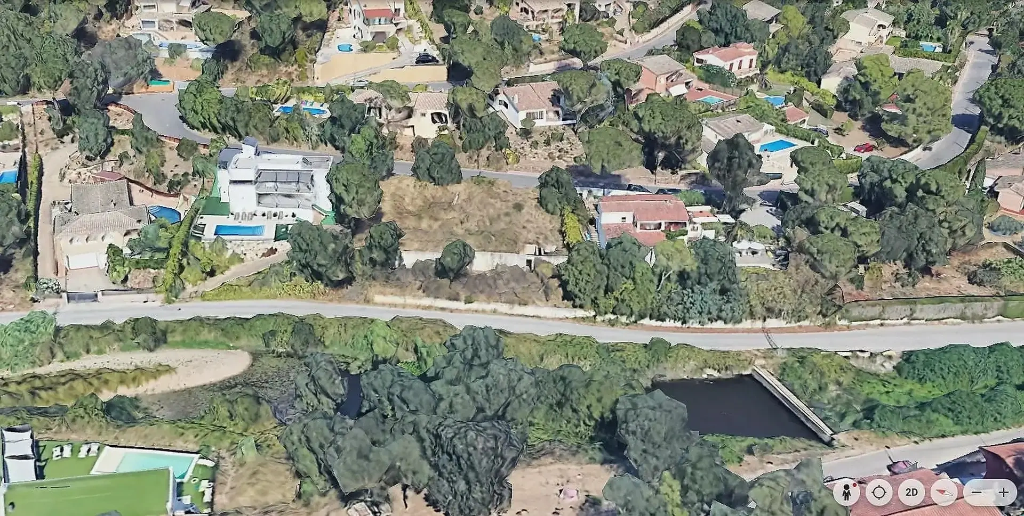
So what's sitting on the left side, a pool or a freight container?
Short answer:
pool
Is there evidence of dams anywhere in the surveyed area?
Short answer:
Yes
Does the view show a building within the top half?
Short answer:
Yes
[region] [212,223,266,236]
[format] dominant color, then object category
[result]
blue swimming pool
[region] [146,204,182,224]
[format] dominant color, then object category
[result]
blue swimming pool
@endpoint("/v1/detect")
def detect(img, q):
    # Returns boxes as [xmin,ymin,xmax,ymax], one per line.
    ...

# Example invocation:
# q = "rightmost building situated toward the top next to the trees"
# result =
[971,159,1024,217]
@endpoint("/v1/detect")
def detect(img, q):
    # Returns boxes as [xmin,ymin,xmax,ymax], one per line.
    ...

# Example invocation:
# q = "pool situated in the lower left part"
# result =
[110,451,197,481]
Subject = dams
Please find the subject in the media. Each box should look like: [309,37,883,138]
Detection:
[746,361,844,451]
